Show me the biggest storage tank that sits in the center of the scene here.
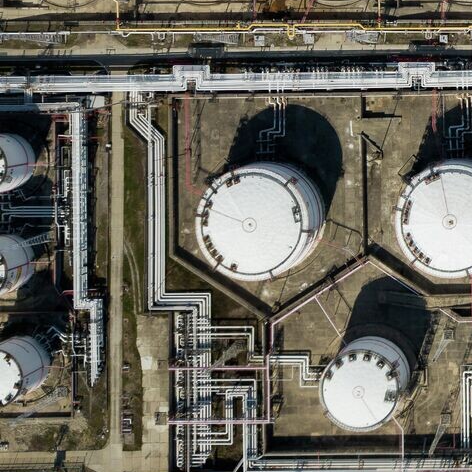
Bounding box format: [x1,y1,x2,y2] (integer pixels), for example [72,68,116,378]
[194,156,330,283]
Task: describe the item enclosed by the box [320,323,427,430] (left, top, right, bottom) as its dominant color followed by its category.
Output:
white storage tank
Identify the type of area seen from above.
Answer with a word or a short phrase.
industrial area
